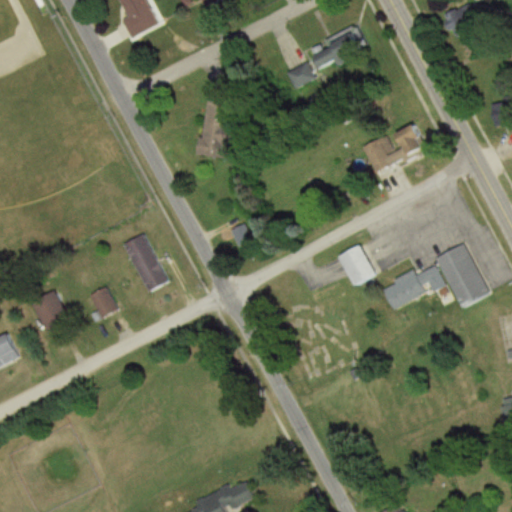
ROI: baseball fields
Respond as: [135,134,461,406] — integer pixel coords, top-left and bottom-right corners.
[0,0,147,257]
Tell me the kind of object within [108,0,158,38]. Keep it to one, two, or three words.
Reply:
house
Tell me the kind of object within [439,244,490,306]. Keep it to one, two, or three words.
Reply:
building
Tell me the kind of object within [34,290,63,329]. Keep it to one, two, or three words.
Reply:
house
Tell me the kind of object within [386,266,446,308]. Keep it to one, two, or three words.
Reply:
building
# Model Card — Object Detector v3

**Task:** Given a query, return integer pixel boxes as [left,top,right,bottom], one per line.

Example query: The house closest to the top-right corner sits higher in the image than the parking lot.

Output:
[445,2,471,33]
